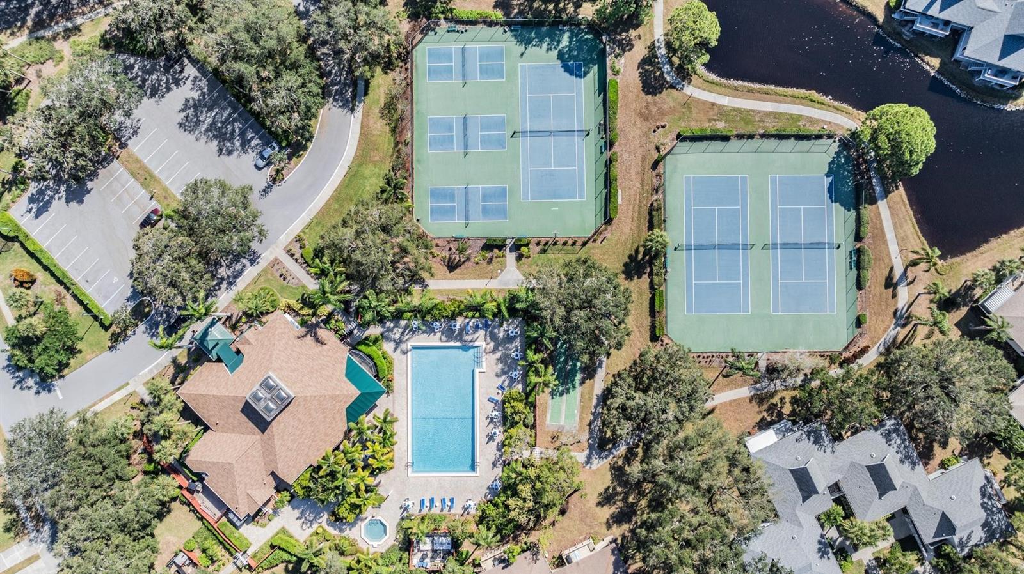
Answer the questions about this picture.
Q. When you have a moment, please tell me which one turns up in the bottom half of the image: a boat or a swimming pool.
swimming pool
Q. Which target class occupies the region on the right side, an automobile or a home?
home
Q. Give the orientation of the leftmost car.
diagonally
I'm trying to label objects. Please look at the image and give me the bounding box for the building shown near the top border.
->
[890,0,1024,90]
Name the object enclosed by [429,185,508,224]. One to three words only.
sports court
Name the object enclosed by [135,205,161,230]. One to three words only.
car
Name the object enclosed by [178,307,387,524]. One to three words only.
building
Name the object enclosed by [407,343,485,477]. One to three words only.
swimming pool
